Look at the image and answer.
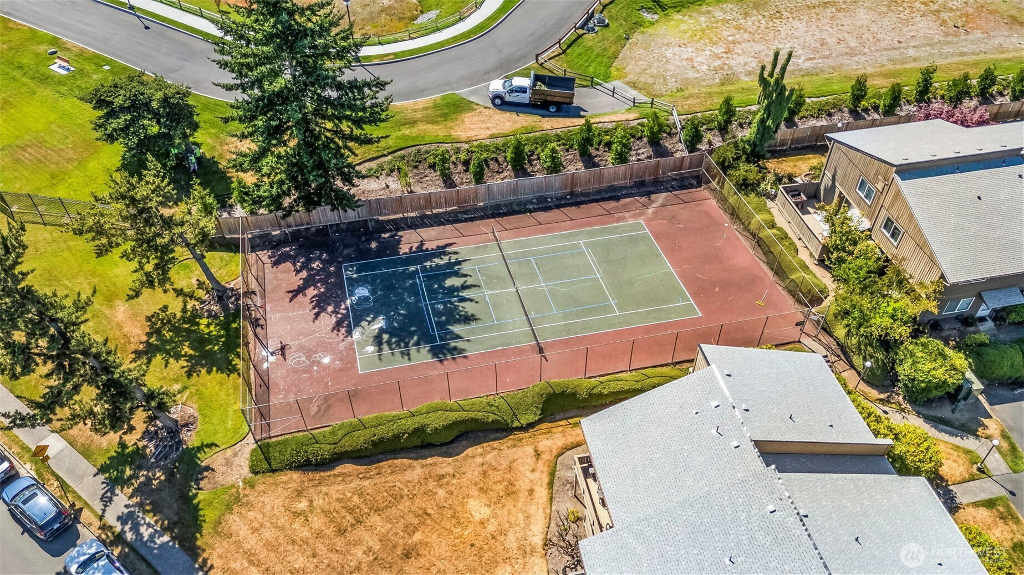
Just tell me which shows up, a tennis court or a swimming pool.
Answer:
tennis court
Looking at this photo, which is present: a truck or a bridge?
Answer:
truck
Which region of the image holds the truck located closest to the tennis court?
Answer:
top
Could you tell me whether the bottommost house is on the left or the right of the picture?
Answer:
right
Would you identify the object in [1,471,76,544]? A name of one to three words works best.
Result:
car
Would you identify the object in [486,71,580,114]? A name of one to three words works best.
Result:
truck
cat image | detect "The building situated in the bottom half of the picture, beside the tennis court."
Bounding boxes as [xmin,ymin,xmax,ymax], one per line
[569,344,992,575]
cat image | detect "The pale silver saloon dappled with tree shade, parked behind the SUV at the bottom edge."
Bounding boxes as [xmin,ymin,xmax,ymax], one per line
[67,538,135,575]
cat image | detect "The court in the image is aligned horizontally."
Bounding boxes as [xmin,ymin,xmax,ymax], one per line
[250,182,814,443]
